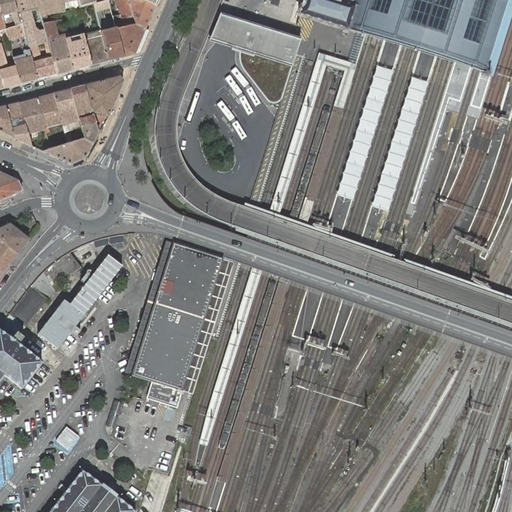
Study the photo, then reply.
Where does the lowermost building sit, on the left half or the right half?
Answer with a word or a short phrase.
left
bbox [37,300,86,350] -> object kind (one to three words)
building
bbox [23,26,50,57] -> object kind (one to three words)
house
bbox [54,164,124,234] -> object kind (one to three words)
roundabout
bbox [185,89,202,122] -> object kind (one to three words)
vehicle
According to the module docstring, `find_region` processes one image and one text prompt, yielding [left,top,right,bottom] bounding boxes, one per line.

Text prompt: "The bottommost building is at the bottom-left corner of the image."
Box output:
[48,472,136,512]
